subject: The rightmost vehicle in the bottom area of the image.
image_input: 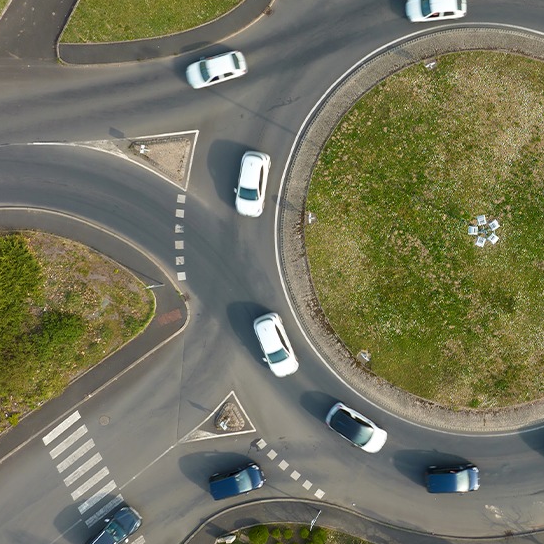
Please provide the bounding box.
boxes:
[424,463,481,495]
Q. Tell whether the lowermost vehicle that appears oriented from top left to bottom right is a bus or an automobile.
automobile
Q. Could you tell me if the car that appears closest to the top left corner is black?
No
